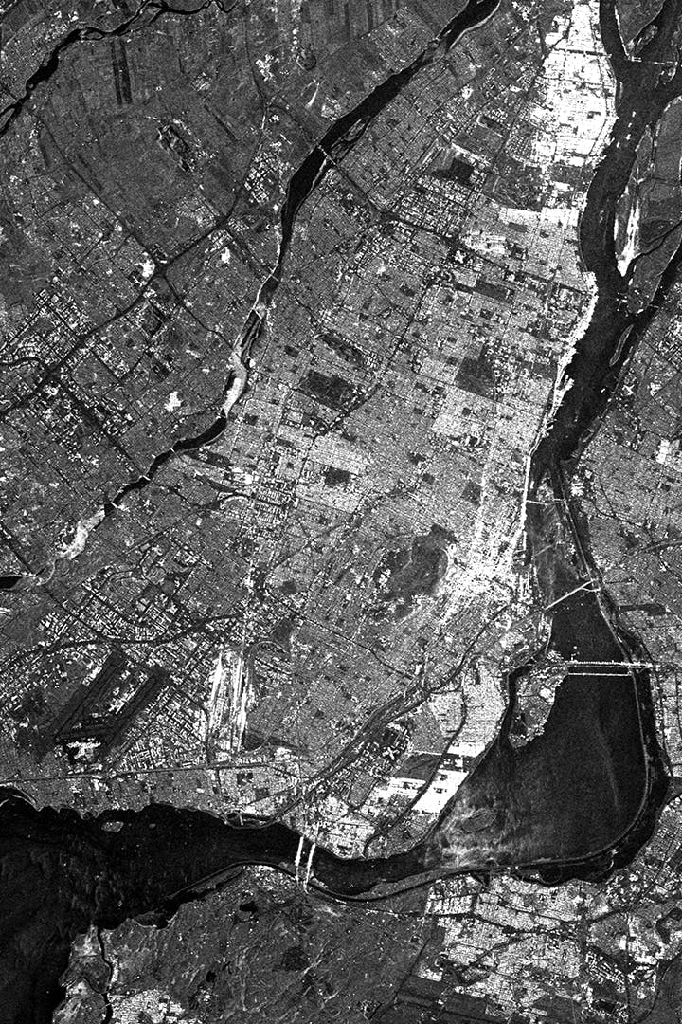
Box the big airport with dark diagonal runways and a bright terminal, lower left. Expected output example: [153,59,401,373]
[35,653,168,766]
